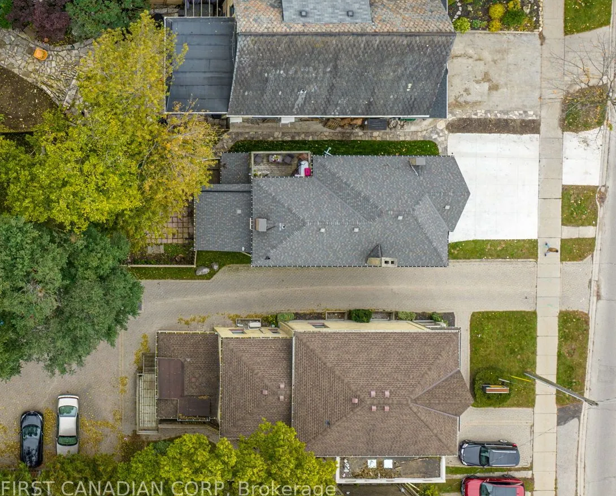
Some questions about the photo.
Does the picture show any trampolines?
No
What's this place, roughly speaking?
residential area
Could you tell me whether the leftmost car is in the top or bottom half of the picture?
bottom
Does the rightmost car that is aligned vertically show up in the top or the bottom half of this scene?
bottom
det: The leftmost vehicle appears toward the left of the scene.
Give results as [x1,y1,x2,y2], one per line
[17,408,45,469]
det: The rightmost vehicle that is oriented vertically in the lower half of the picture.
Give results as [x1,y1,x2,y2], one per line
[53,393,83,458]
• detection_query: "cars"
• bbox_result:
[53,393,83,458]
[457,437,521,469]
[459,472,524,496]
[17,408,45,469]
